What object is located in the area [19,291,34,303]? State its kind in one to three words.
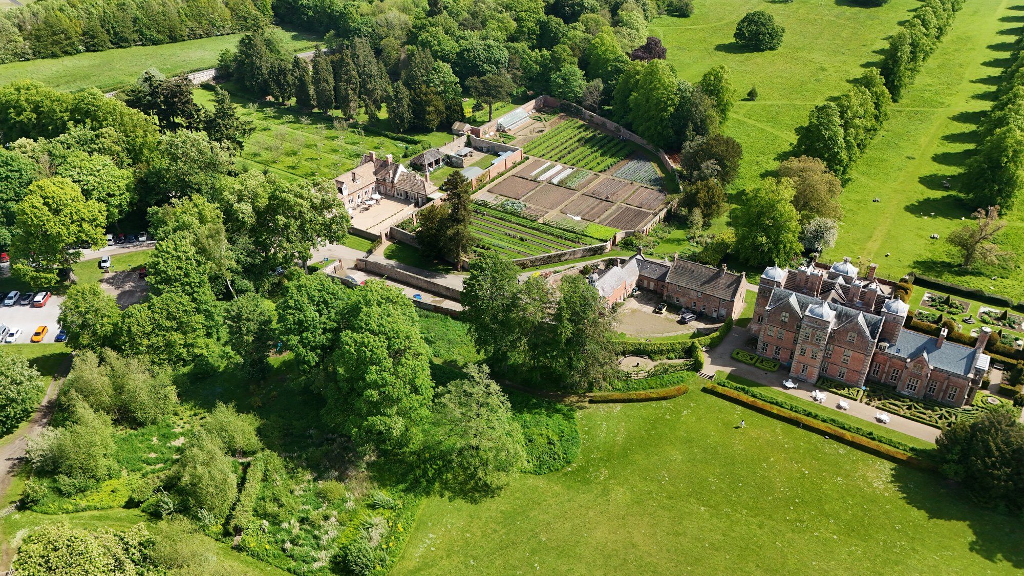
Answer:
vehicle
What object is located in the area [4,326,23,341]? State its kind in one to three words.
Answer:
car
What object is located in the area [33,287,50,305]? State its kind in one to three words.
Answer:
vehicle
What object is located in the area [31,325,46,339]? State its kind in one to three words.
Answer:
car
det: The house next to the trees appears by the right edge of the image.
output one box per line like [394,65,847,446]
[750,259,996,407]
